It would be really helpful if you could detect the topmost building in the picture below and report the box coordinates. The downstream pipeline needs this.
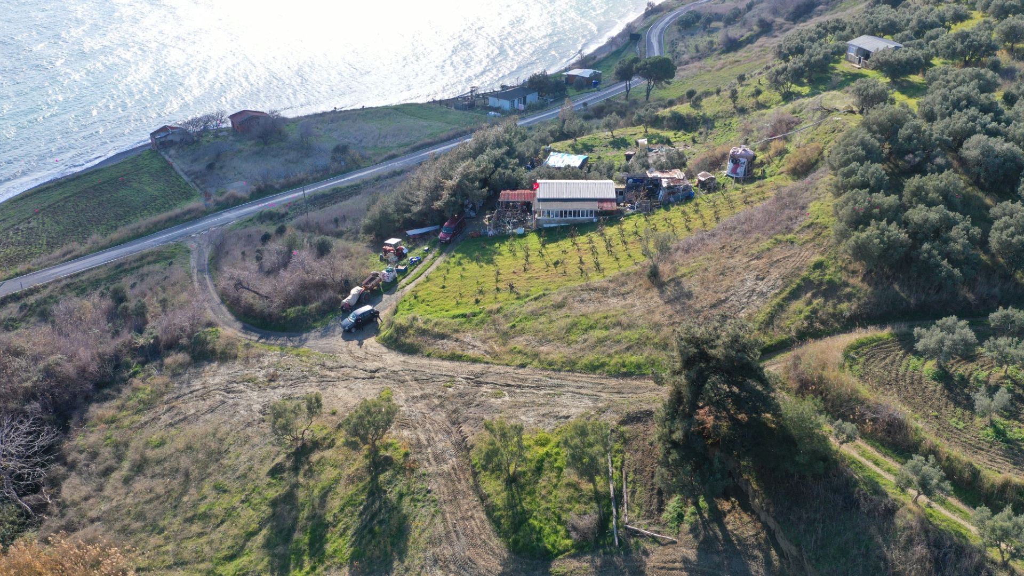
[844,39,902,59]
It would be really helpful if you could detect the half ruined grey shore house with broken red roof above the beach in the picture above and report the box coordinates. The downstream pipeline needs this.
[146,125,187,150]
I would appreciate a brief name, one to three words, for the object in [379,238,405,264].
work vehicle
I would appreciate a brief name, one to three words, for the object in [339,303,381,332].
car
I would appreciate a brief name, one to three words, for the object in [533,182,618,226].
house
